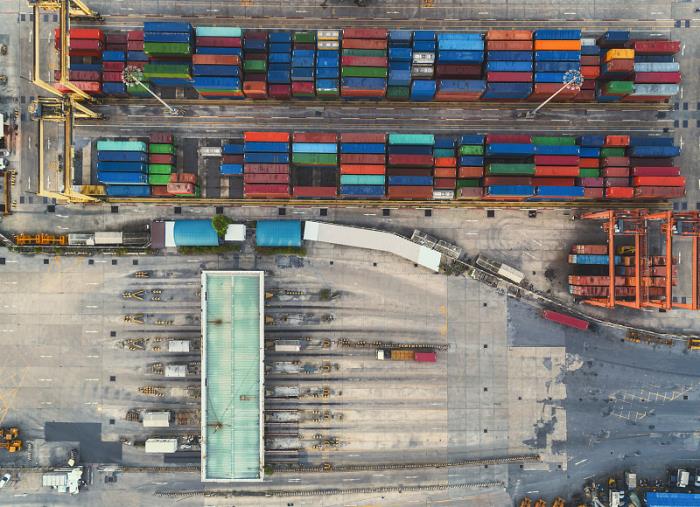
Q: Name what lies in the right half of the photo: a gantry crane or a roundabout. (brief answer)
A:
gantry crane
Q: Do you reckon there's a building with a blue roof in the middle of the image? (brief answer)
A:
Yes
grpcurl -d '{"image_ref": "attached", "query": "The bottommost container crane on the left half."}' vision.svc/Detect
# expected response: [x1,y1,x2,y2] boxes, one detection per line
[29,94,109,204]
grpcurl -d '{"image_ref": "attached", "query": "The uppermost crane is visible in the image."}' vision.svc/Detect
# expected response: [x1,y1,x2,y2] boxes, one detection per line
[25,0,105,102]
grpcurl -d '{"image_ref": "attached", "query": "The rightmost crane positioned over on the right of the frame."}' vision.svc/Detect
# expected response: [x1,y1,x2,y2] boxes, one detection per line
[623,209,700,310]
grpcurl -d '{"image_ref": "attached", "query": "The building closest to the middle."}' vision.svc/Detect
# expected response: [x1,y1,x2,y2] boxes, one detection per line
[256,219,302,247]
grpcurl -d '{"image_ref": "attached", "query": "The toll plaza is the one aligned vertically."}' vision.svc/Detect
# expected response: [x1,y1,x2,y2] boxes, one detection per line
[201,271,272,482]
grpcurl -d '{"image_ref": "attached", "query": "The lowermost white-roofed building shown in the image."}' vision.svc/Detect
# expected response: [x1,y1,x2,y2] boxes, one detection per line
[42,467,87,494]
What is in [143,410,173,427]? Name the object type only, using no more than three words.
building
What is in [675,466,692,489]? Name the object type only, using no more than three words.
vehicle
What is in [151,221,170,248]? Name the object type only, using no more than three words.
shed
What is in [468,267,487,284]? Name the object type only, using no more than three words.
vehicle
